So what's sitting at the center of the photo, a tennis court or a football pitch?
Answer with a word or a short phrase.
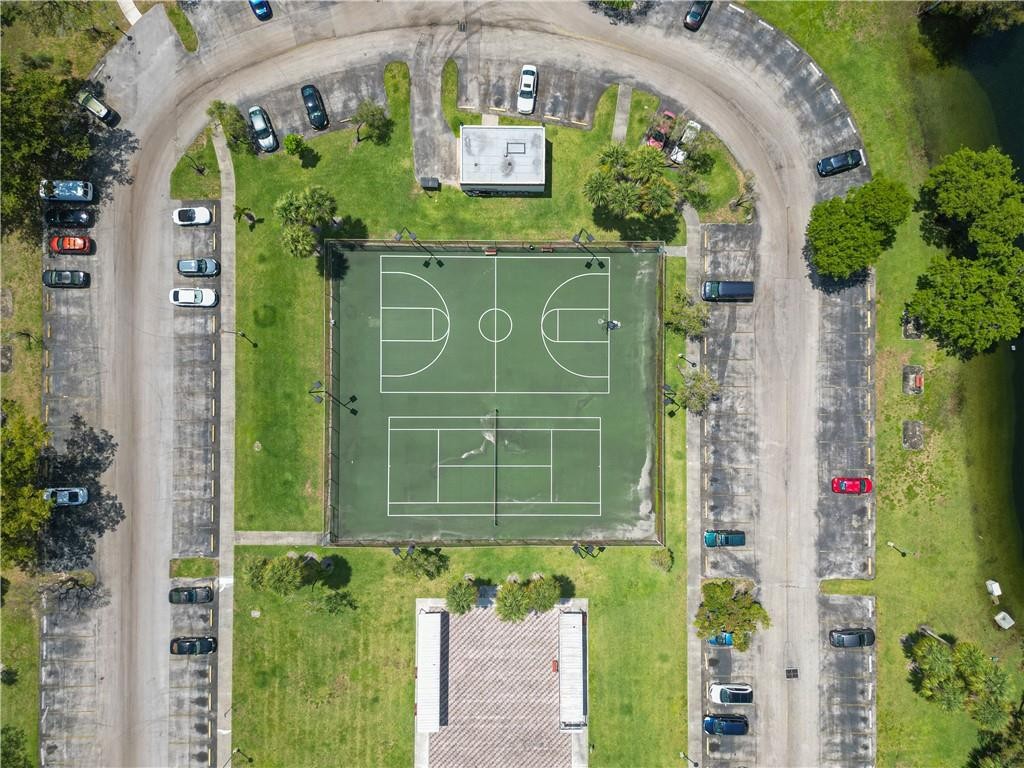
tennis court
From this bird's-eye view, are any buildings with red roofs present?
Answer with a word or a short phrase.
No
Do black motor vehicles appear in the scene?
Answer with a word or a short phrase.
Yes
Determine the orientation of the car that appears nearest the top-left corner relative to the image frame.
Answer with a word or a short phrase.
diagonally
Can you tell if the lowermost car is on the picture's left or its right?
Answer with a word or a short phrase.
right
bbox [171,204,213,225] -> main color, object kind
white car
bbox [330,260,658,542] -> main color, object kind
green tennis court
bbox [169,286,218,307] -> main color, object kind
white car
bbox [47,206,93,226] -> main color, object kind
black car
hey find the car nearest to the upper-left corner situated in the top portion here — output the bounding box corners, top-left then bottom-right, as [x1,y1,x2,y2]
[79,90,123,129]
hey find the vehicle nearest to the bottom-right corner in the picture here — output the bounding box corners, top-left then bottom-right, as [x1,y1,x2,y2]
[830,626,874,648]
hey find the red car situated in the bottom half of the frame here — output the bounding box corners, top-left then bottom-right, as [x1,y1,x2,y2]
[833,476,872,496]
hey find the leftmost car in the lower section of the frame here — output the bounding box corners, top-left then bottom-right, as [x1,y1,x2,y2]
[46,486,88,507]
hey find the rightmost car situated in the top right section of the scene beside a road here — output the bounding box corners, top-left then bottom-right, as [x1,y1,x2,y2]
[815,150,861,177]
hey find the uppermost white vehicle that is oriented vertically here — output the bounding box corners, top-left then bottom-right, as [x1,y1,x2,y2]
[516,65,537,114]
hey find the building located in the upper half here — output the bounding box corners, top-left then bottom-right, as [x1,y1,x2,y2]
[460,126,545,192]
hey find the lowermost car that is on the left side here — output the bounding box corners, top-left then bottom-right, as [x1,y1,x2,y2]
[171,635,218,658]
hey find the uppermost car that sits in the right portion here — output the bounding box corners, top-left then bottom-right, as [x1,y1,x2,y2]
[685,0,714,31]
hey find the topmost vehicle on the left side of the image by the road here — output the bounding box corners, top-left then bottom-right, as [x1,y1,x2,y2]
[250,0,272,20]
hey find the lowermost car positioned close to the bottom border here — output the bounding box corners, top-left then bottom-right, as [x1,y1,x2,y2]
[704,714,748,737]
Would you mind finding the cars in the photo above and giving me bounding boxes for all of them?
[171,204,213,225]
[685,0,714,31]
[709,682,753,706]
[516,65,537,114]
[301,84,330,131]
[833,476,872,496]
[178,256,221,277]
[46,486,88,507]
[45,268,90,289]
[250,0,272,20]
[703,529,745,549]
[169,286,218,307]
[52,234,91,254]
[644,108,674,148]
[248,106,278,153]
[669,120,703,165]
[815,150,861,177]
[702,627,742,648]
[830,626,874,648]
[704,714,748,737]
[79,90,123,129]
[47,206,93,226]
[169,585,215,606]
[171,635,218,658]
